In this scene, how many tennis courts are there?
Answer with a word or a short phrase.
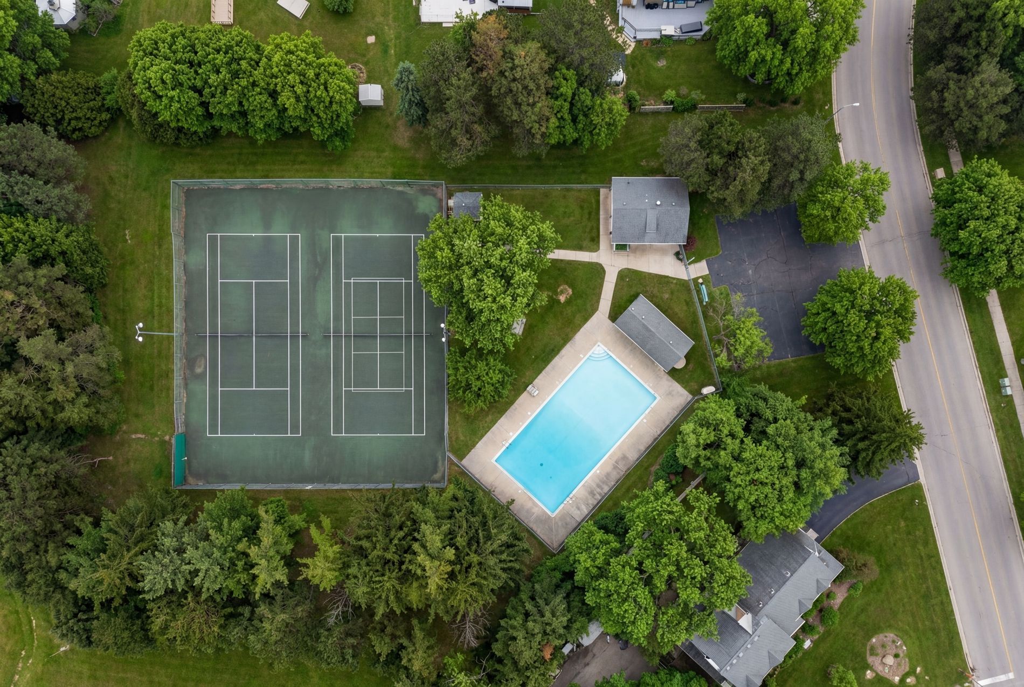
2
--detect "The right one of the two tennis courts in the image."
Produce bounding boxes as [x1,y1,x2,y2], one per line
[316,186,447,485]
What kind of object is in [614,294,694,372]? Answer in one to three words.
building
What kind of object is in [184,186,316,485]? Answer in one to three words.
tennis court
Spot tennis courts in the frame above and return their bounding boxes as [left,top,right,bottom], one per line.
[316,186,447,485]
[184,186,316,485]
